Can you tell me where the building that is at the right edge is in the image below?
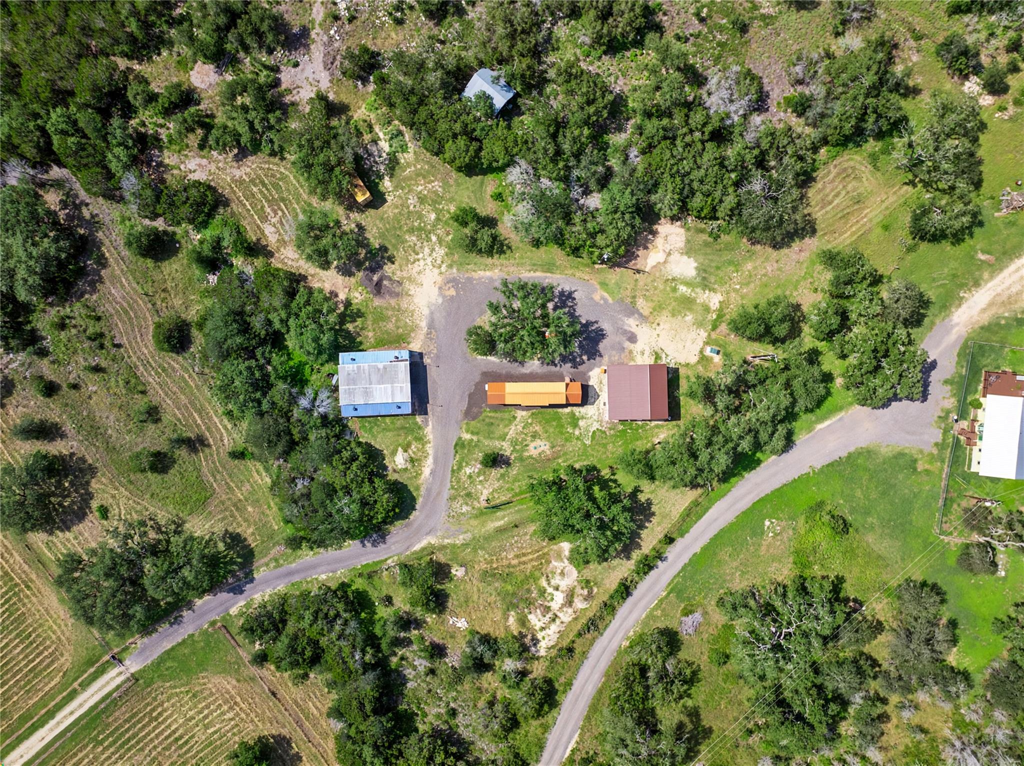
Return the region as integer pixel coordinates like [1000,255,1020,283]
[961,395,1024,480]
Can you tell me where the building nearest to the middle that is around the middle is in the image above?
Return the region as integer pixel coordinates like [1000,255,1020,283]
[487,382,582,407]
